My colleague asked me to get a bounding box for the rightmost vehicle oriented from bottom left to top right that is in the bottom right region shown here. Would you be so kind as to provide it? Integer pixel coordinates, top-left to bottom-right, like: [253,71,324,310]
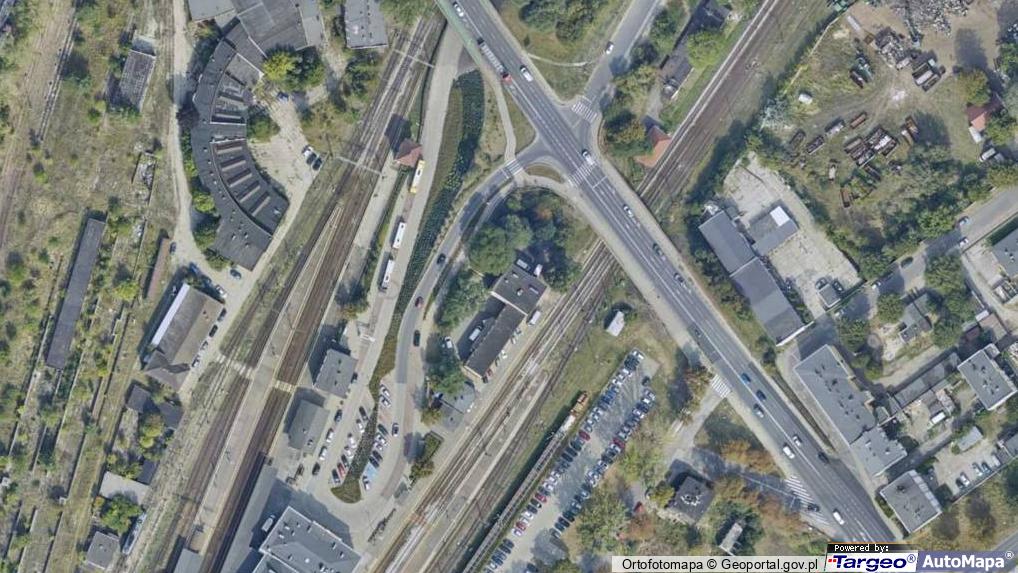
[930,411,947,425]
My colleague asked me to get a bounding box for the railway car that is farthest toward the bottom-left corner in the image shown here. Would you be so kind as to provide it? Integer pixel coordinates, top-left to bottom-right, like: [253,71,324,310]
[122,512,149,555]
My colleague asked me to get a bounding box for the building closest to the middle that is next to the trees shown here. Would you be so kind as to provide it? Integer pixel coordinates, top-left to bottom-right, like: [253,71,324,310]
[492,264,547,315]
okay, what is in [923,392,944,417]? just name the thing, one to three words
shed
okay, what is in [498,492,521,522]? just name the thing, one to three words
rail car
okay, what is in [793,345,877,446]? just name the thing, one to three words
building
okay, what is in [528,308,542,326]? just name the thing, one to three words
vehicle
